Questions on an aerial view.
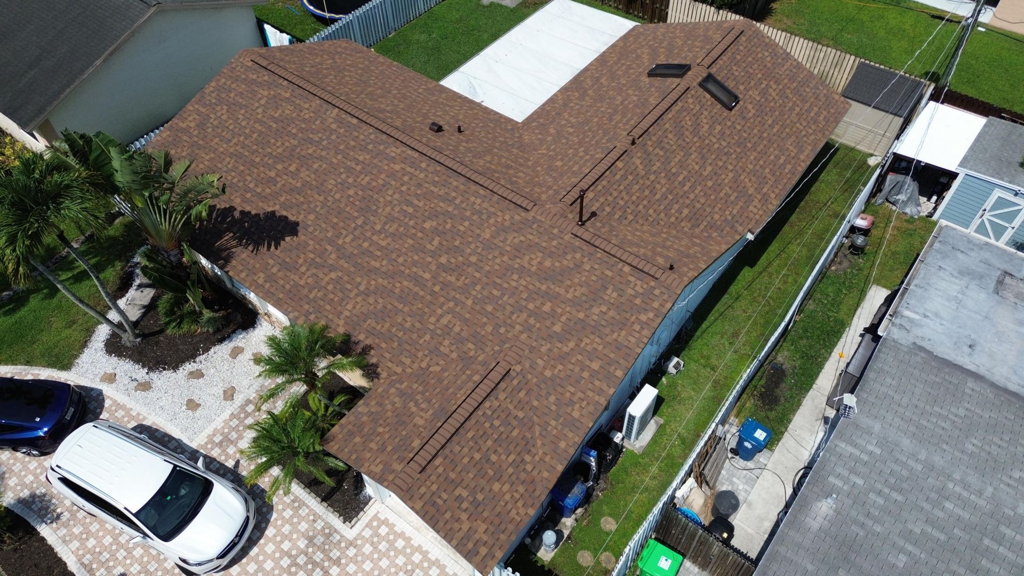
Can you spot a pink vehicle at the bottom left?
No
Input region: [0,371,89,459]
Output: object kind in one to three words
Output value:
car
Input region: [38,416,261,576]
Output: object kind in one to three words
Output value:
car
